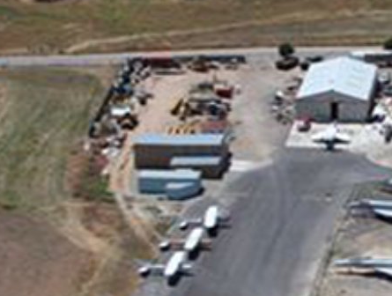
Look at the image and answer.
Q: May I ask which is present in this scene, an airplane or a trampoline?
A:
airplane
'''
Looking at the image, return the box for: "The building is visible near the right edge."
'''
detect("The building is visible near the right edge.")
[293,54,380,121]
